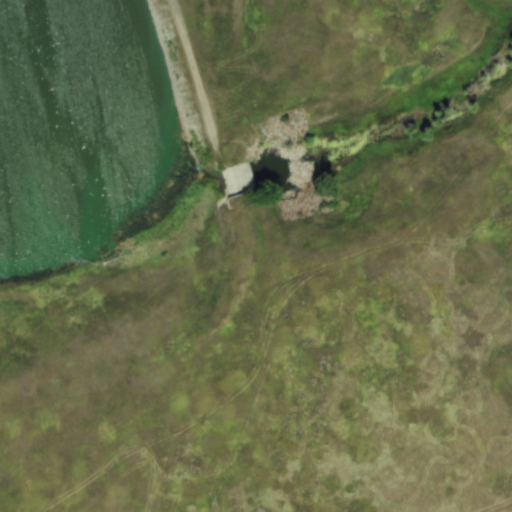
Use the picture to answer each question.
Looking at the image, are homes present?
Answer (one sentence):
No, I find no home anywhere in the image.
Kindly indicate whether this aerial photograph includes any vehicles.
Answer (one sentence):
No, no vehicle can be seen from above.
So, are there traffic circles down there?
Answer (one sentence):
No, there appears to be no traffic circle in this shot.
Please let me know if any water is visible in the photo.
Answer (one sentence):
Yes, water shows up in the scene.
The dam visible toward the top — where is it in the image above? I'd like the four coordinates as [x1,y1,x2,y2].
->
[148,0,227,154]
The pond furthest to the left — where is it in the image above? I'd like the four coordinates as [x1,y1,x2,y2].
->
[0,0,222,283]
